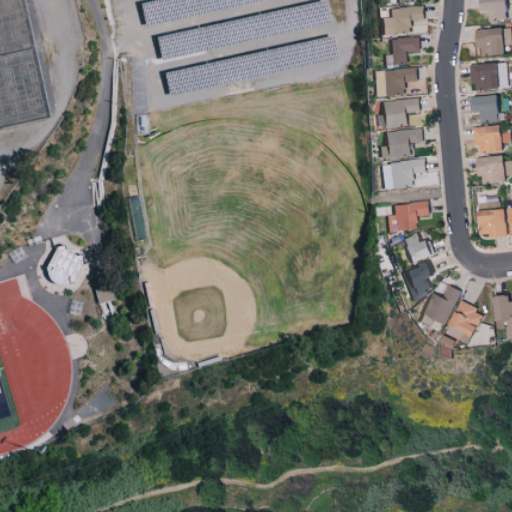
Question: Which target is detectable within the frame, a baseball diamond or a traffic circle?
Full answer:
Looking from above, you can make out a baseball diamond.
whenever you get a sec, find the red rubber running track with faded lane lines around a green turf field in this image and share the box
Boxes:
[0,279,74,454]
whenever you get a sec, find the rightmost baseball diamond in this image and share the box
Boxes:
[139,119,367,366]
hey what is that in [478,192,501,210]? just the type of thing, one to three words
house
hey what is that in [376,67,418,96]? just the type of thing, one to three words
house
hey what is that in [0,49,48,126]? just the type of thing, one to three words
tennis court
